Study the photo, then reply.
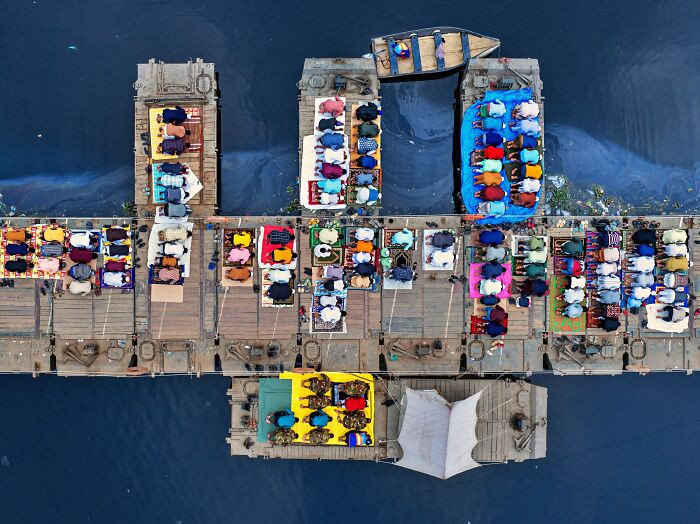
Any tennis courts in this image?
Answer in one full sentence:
No, the picture doesn't show any tennis court.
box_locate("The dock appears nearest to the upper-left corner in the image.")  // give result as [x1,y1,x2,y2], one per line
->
[130,57,222,217]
